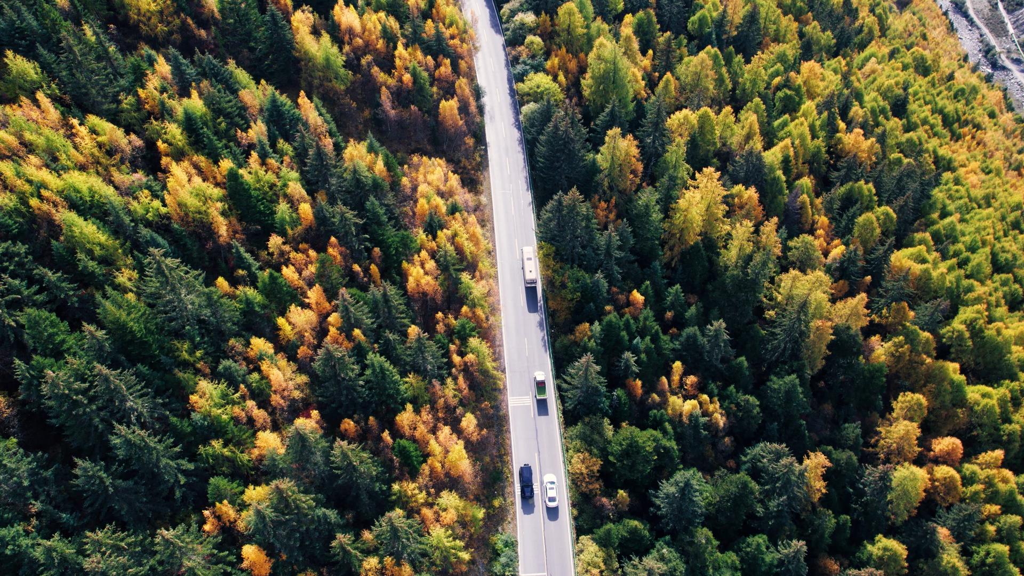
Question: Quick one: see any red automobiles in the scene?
No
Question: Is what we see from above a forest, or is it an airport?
forest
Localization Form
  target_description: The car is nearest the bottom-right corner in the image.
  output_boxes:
[543,471,559,505]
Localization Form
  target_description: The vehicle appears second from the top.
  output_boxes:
[533,371,549,399]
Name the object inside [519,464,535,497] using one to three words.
car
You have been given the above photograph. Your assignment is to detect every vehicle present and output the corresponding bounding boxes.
[519,464,535,497]
[533,371,549,399]
[520,247,537,286]
[543,471,559,505]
